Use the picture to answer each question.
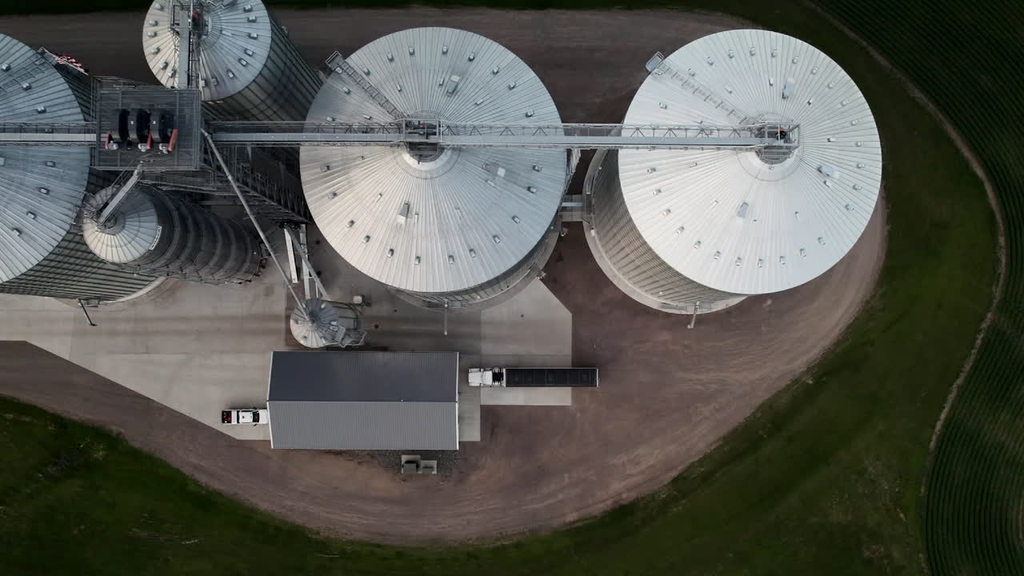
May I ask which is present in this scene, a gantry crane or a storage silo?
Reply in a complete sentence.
Looking from above, you can make out a storage silo.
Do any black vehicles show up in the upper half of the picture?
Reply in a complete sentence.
No, no black vehicle is visible in the upper half of the picture.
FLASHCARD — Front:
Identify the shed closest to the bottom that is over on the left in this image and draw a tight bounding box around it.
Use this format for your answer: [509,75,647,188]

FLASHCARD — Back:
[264,350,462,450]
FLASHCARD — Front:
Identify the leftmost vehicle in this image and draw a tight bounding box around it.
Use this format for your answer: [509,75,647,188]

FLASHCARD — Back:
[221,407,265,426]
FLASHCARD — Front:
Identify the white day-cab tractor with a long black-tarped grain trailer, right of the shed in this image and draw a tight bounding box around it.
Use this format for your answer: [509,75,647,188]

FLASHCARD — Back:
[467,367,600,388]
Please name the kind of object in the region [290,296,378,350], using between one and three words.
silo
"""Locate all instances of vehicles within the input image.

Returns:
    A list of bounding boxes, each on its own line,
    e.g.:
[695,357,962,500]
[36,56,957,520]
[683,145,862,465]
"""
[467,367,600,388]
[221,407,265,426]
